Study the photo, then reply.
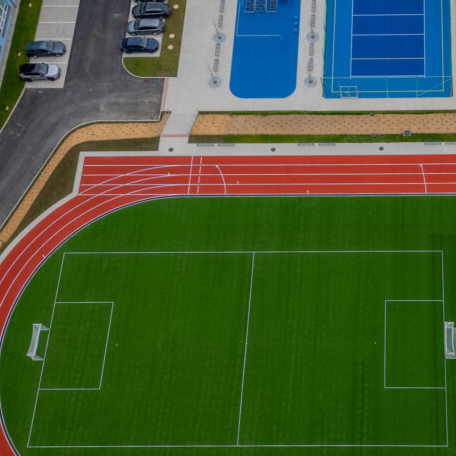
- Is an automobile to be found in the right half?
No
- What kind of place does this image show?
sports ground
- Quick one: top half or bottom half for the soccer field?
bottom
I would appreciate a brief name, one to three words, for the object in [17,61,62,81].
car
